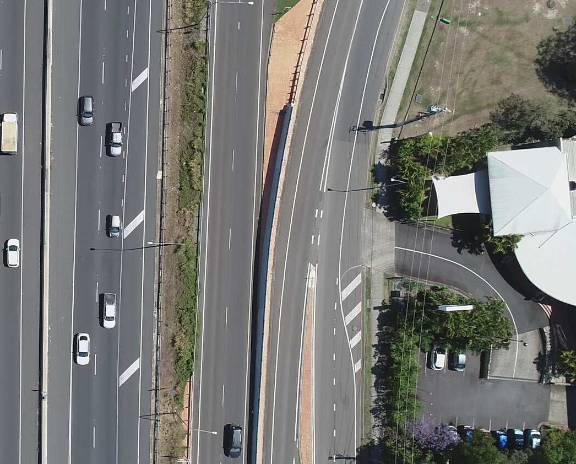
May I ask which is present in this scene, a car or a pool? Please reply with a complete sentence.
It is a car that can be seen here.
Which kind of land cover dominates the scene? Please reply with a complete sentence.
For the most part, this view shows paved ground.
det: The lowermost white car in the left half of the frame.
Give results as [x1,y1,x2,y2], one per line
[76,333,92,365]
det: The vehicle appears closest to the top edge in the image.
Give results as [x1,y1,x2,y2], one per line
[82,94,96,125]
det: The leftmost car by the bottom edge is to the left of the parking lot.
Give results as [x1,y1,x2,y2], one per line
[229,425,245,458]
